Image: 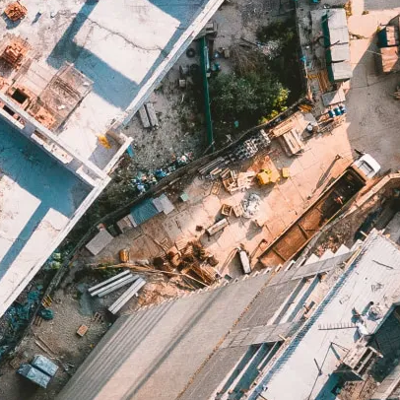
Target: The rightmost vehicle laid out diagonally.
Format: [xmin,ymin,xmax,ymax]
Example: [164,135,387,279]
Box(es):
[267,136,400,254]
